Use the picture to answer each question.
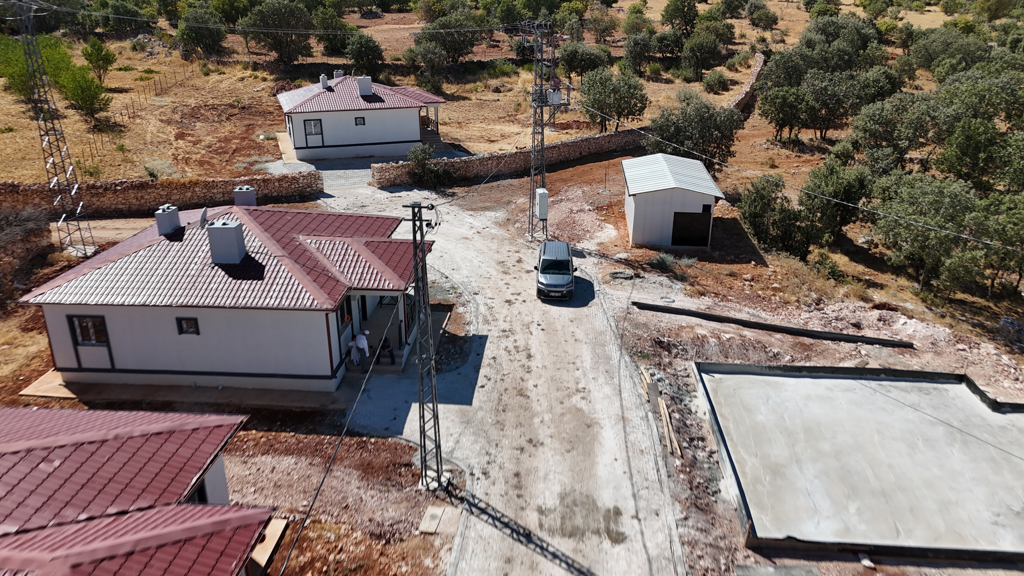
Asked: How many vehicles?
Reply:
1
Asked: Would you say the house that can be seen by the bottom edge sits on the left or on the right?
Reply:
left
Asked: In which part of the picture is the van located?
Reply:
center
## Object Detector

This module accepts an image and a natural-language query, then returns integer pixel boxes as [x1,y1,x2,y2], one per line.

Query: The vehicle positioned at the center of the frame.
[533,241,579,298]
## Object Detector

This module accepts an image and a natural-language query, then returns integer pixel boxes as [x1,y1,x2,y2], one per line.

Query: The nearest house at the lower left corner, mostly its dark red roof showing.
[0,408,281,576]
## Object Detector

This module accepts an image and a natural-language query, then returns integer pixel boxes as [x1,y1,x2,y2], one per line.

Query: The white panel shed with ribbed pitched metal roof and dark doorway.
[616,152,728,248]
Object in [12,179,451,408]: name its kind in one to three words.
house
